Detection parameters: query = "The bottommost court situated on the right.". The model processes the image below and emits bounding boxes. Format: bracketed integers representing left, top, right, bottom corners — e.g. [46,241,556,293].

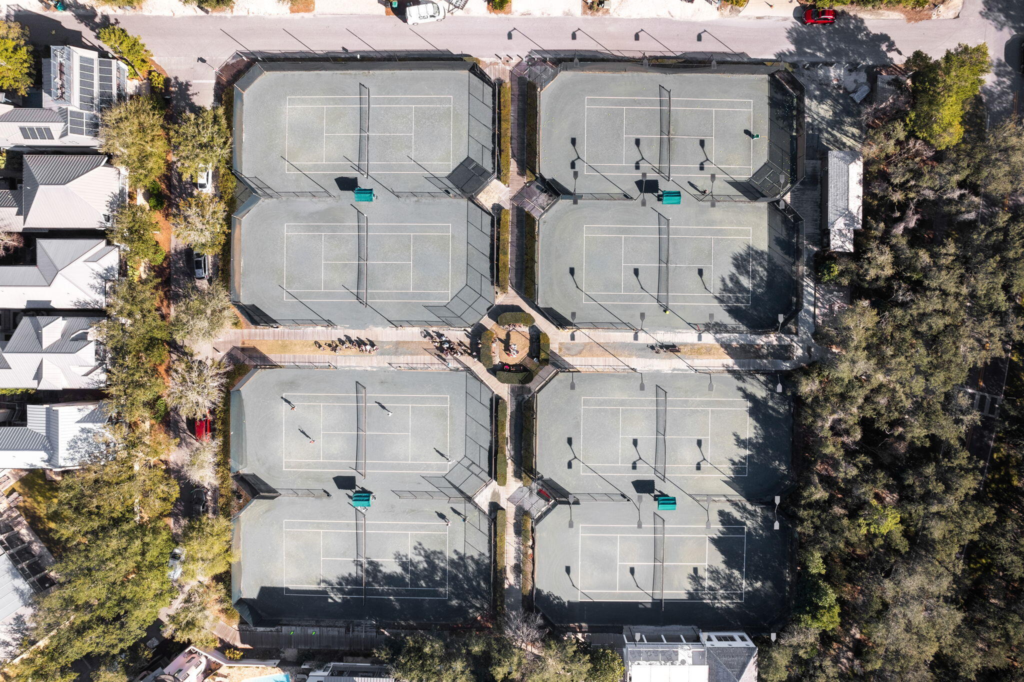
[536,501,792,626]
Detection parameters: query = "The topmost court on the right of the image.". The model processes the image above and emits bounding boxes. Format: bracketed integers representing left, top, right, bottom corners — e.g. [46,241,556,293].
[541,73,795,199]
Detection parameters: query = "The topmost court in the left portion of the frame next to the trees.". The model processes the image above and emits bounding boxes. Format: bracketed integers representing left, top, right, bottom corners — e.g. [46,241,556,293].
[243,71,496,197]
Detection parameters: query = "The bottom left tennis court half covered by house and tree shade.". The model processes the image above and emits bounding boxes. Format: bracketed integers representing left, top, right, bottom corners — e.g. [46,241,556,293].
[241,498,491,625]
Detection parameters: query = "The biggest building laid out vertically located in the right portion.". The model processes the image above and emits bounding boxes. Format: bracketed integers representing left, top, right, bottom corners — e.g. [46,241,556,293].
[823,151,862,252]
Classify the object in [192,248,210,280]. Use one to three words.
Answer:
car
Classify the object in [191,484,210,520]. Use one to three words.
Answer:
vehicle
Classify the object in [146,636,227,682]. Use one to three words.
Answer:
house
